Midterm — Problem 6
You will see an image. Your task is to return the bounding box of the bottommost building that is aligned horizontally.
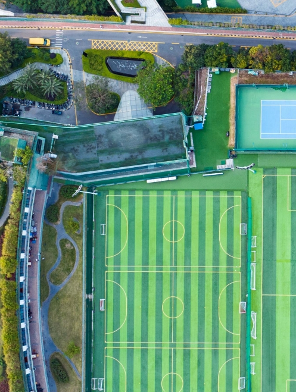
[49,112,195,187]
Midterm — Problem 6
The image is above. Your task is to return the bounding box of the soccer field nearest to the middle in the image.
[105,195,241,267]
